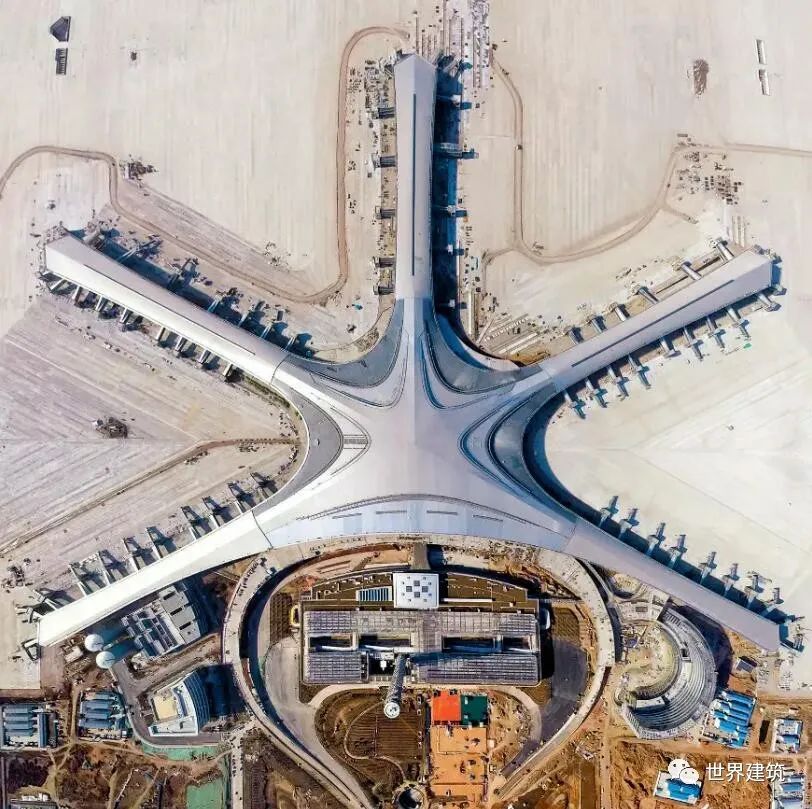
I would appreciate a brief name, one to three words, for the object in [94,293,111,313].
jet bridge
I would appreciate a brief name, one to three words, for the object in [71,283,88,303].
jet bridge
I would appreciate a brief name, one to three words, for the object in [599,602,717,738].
building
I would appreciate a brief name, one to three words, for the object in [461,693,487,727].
shed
